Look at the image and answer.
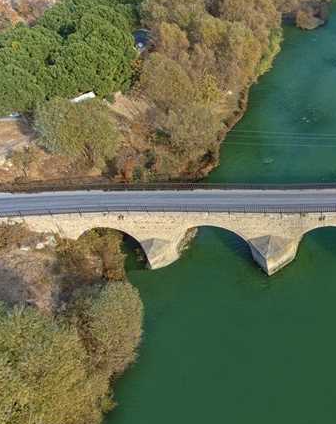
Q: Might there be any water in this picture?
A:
Yes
